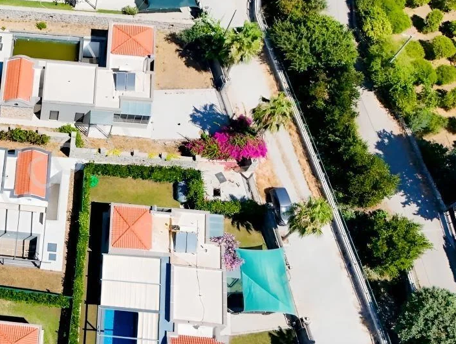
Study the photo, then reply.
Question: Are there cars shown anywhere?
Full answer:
Yes, this view includes a car.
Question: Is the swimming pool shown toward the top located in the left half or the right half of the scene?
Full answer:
It is on the left.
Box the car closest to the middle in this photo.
[262,187,293,231]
